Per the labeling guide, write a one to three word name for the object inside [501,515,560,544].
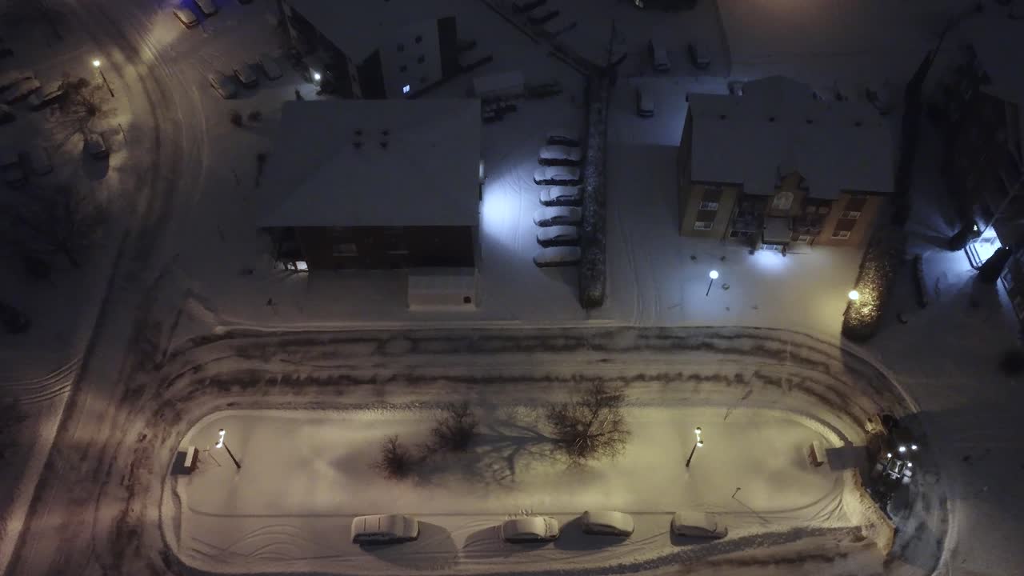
car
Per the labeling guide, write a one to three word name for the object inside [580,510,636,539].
car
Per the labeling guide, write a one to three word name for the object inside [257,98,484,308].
building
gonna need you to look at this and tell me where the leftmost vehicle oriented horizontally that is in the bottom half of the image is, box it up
[351,513,418,546]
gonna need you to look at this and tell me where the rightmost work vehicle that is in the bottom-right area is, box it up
[859,412,916,499]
